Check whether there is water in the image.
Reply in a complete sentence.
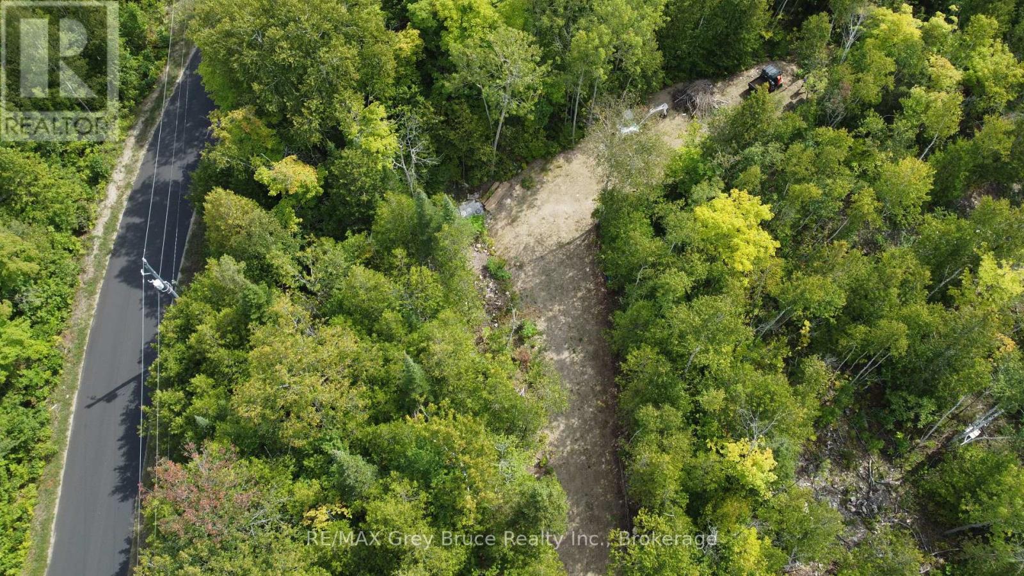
No, the picture contains no water.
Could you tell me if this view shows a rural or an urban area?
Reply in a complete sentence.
The area is rural.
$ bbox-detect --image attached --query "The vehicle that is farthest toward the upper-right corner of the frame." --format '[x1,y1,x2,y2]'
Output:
[747,67,782,96]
